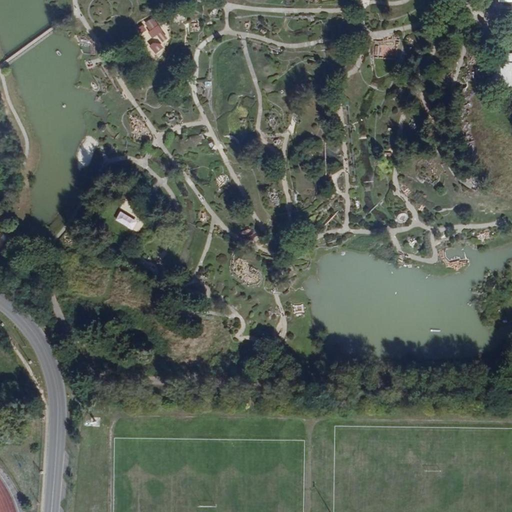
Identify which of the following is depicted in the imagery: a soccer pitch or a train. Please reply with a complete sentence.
Visible in the photo is a soccer pitch.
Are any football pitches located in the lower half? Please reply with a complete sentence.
Yes, a football pitch shows up in the lower half.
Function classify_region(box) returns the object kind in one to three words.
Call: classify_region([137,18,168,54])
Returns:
building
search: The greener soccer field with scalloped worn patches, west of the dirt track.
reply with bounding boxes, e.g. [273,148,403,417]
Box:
[112,437,304,512]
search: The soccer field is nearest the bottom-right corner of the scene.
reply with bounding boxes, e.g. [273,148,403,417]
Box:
[334,426,512,512]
